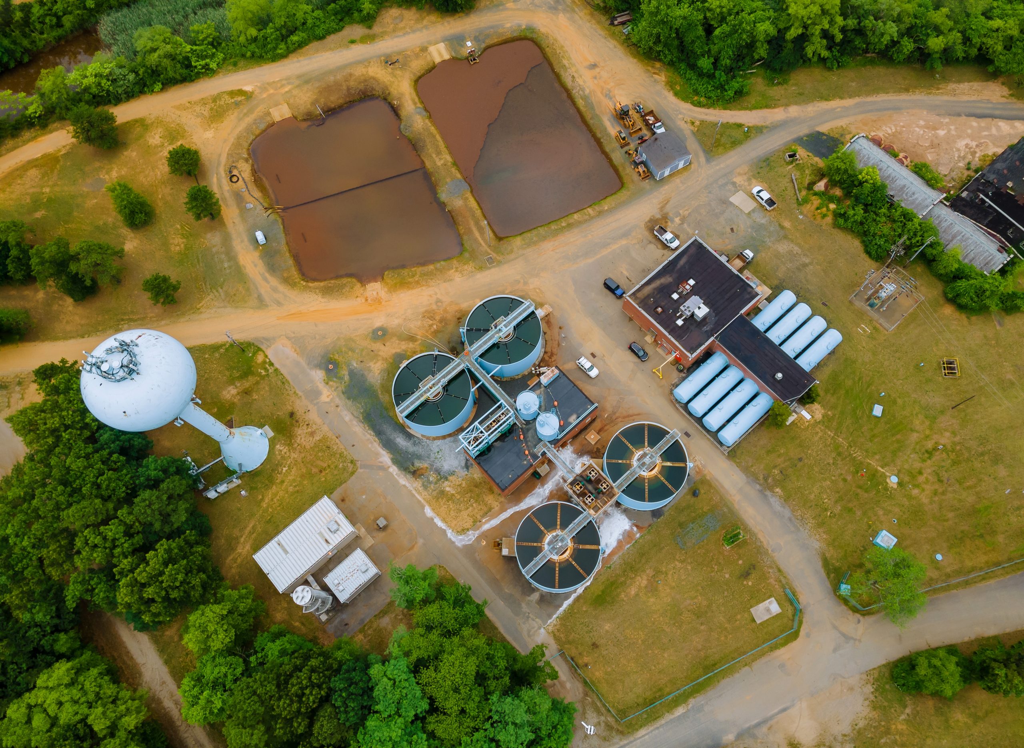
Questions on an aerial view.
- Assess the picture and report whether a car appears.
Yes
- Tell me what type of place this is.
industrial area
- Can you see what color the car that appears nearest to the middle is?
white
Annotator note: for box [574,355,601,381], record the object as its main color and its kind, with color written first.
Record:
white car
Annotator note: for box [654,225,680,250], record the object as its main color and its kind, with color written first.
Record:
white truck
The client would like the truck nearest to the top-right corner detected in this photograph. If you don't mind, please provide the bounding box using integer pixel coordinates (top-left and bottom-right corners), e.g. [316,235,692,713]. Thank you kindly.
[751,187,777,211]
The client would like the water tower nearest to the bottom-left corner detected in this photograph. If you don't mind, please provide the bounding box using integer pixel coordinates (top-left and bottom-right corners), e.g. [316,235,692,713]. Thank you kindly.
[78,327,266,470]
